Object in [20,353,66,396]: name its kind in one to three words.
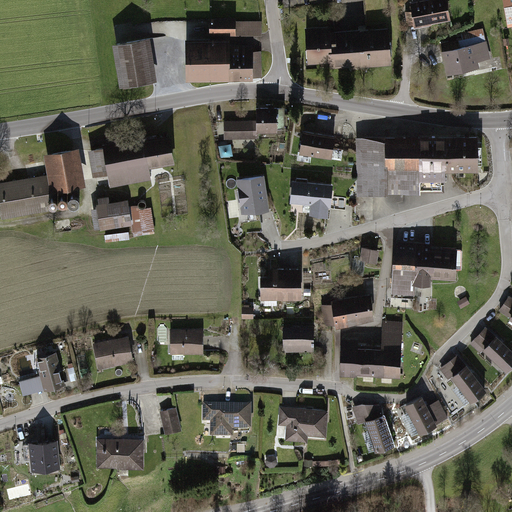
house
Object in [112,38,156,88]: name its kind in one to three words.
barn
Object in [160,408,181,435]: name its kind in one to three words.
building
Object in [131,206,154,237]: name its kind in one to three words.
shed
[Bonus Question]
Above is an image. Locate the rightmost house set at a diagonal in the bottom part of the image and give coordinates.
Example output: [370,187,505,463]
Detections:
[470,327,512,375]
